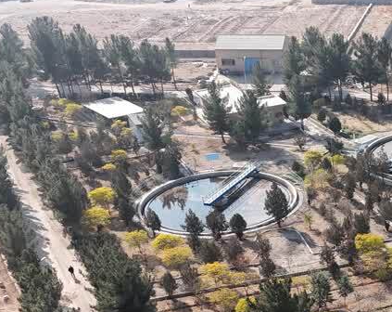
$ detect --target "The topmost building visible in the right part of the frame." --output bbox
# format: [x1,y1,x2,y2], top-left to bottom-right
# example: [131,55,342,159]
[210,35,298,77]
